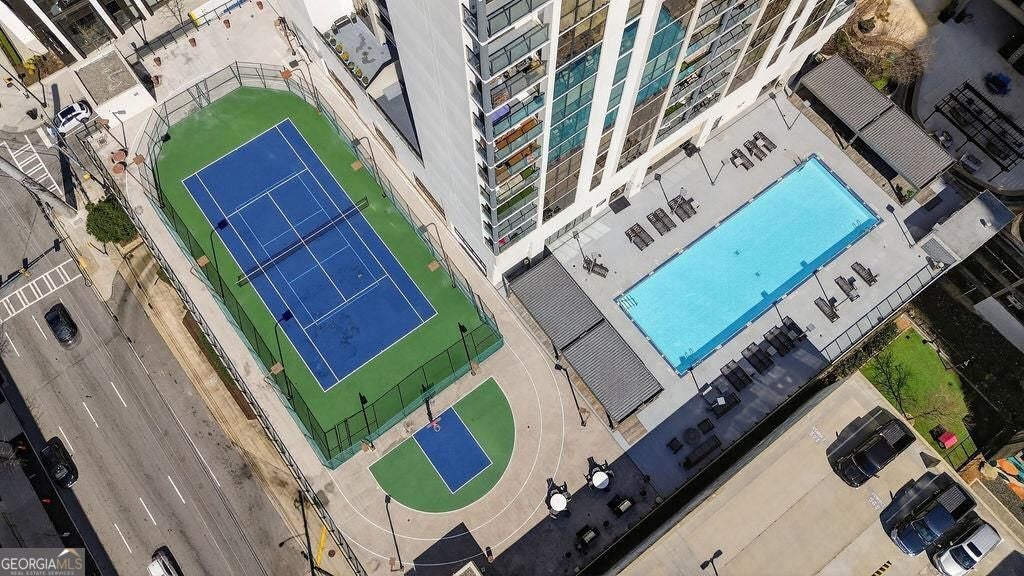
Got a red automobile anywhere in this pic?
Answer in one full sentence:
No, no red automobile is visible in the view.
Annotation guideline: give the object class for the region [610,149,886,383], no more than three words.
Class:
swimming pool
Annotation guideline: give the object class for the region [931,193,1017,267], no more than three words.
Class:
building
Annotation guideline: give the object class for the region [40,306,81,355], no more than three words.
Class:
car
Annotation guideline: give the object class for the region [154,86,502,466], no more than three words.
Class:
tennis court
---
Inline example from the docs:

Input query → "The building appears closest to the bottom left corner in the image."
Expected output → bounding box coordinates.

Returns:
[0,380,103,576]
